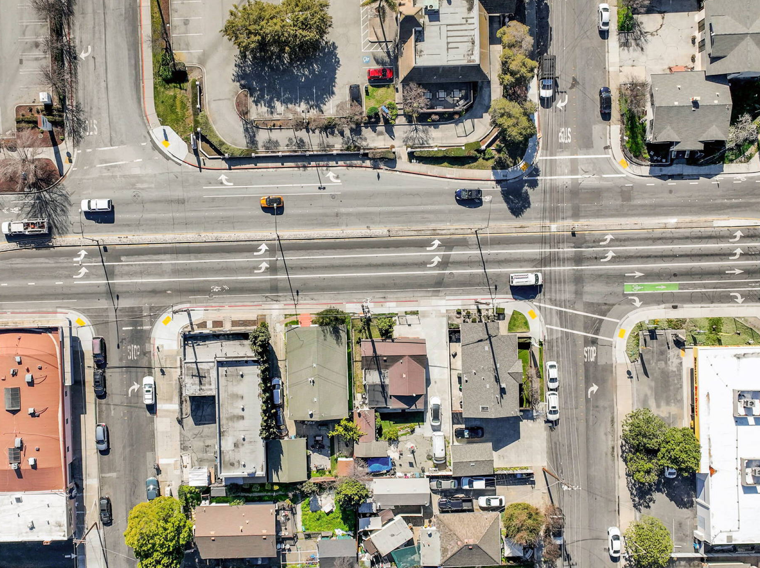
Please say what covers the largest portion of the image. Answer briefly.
paved ground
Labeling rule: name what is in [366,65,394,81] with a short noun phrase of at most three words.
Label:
car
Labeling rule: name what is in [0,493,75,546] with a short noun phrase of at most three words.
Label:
building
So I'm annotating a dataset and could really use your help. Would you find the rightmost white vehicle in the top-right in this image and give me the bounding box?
[596,3,612,32]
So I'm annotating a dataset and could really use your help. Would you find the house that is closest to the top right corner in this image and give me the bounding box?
[688,0,760,84]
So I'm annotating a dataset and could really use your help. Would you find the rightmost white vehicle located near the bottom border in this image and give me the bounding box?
[606,525,623,557]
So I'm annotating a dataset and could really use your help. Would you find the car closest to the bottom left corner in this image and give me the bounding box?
[98,495,113,523]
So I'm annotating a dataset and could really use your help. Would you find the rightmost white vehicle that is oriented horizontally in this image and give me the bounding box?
[508,271,542,287]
